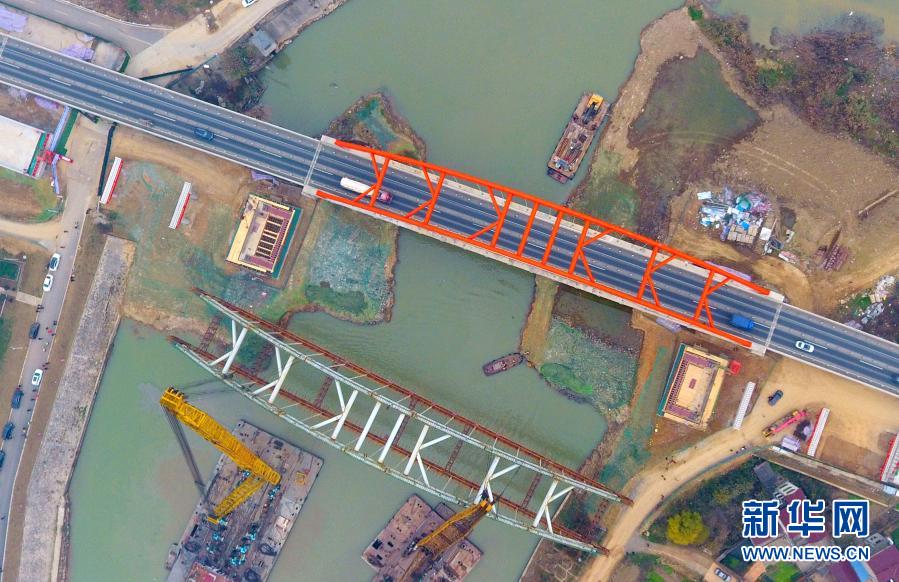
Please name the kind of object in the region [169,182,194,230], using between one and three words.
shed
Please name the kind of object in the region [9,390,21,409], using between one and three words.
vehicle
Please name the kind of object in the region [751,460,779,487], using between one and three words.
house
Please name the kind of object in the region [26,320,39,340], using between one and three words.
vehicle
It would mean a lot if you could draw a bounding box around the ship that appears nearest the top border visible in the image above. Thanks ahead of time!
[547,91,609,187]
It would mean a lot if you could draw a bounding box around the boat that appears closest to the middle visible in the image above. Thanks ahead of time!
[483,353,521,376]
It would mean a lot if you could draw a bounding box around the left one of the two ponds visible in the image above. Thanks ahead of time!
[553,284,645,347]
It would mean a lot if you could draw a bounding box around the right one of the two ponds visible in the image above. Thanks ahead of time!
[629,47,760,147]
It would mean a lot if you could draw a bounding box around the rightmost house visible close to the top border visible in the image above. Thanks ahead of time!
[251,29,278,58]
